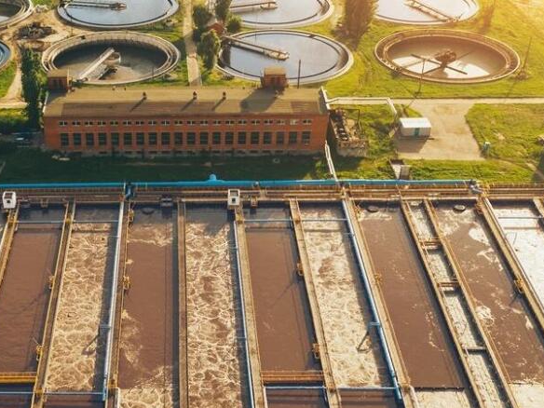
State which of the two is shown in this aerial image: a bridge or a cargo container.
bridge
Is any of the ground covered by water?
Yes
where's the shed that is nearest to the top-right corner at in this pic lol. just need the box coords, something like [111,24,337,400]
[397,112,432,135]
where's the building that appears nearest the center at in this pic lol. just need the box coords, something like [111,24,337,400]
[227,185,242,207]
